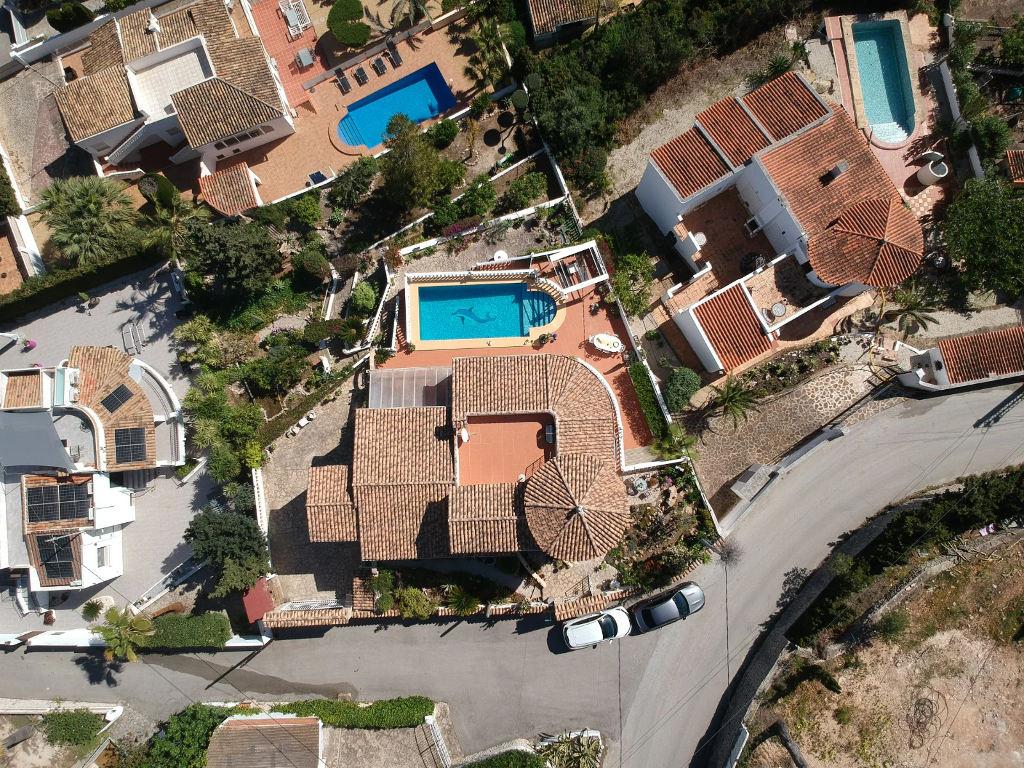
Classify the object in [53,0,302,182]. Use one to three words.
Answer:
house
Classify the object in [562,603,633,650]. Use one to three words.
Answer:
car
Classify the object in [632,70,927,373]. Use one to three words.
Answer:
house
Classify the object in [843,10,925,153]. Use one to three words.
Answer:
swimming pool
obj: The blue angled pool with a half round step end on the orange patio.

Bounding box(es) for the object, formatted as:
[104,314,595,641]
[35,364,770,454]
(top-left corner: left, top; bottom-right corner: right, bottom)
[326,54,465,161]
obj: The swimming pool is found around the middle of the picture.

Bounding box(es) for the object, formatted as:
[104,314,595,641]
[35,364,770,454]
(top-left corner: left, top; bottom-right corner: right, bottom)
[410,272,567,350]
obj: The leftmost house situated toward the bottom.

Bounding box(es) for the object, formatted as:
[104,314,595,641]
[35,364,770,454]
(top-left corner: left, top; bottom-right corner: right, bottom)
[0,345,192,594]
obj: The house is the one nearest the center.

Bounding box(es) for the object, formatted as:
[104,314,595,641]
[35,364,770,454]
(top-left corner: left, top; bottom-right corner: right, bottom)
[302,355,633,564]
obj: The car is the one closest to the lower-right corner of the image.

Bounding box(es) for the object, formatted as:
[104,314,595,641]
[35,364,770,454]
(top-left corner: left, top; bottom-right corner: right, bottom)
[630,582,707,632]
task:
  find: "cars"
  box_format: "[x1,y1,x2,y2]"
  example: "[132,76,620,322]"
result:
[562,603,633,650]
[630,582,707,632]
